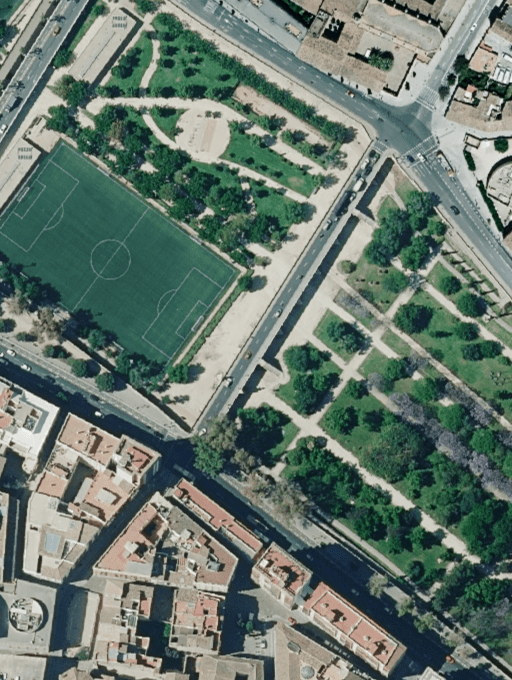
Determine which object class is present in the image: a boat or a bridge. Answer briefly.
bridge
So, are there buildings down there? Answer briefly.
Yes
